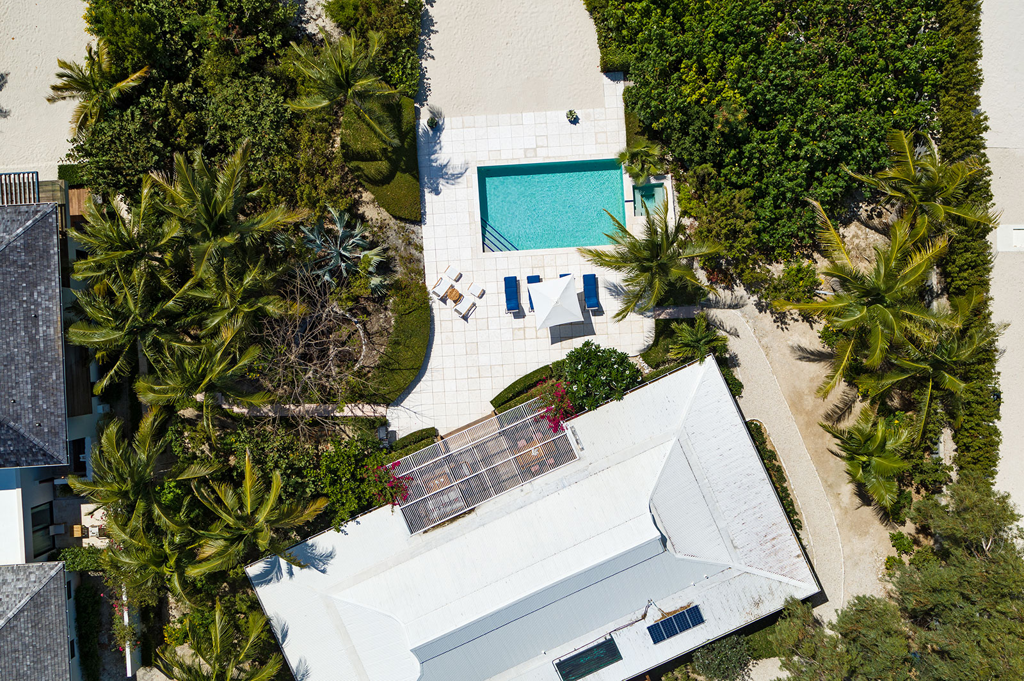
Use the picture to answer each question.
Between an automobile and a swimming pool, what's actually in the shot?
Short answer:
swimming pool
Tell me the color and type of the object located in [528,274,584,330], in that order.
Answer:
white umbrella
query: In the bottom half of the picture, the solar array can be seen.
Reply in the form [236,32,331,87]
[647,603,706,644]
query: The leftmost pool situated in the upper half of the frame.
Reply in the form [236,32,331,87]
[470,151,636,260]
